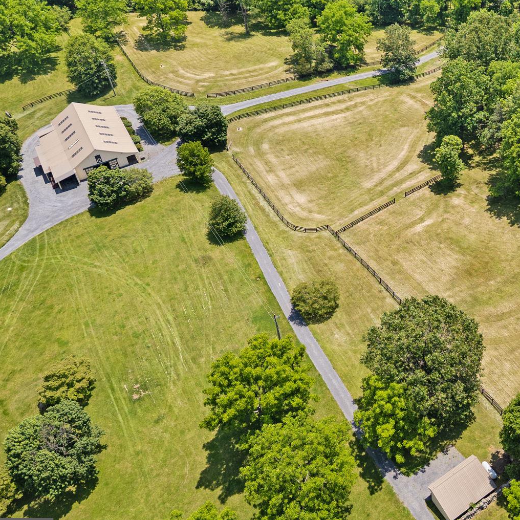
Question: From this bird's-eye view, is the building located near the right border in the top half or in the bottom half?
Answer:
bottom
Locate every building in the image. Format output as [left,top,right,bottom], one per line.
[429,454,496,520]
[36,101,140,192]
